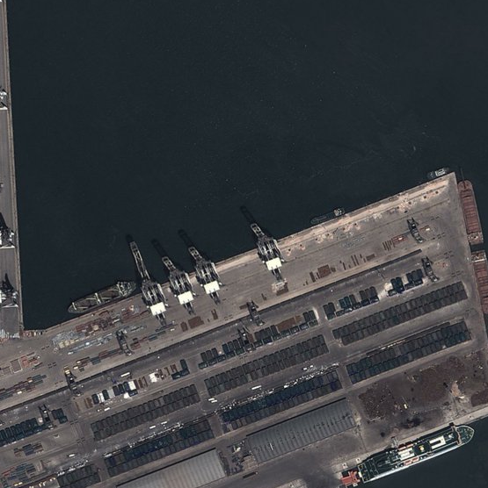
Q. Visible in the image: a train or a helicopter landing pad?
train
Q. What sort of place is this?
port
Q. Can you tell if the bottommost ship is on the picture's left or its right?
right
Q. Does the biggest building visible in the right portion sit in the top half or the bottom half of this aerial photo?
bottom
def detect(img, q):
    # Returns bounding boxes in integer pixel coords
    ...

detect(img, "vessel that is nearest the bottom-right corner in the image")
[358,427,475,483]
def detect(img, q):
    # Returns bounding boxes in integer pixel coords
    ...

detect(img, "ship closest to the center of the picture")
[310,208,346,223]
